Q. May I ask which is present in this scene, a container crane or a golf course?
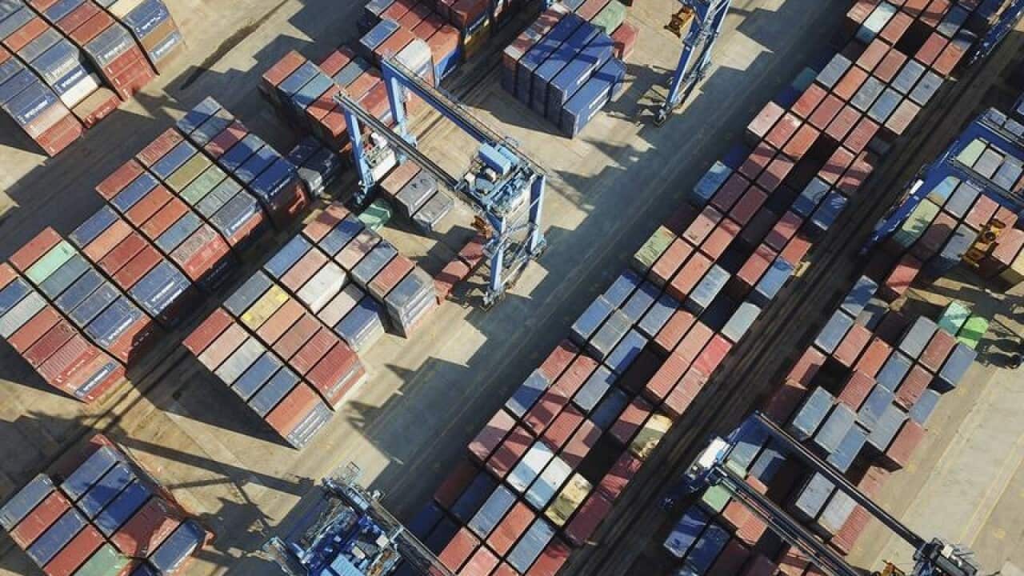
container crane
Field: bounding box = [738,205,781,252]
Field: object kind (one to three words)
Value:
shipping container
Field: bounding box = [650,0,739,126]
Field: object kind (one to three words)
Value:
container crane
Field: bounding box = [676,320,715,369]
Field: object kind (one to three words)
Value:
shipping container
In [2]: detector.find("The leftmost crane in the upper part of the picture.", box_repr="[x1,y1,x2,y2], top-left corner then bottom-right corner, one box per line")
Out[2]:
[333,47,562,310]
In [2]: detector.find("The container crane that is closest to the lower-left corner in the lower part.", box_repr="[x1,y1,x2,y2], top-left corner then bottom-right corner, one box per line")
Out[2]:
[251,465,449,576]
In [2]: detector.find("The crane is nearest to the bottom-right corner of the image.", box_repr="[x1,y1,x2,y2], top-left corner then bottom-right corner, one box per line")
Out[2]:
[655,404,997,576]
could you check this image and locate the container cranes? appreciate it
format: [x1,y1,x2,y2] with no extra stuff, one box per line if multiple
[251,465,449,576]
[650,0,739,126]
[333,47,562,310]
[655,404,997,576]
[860,113,1024,263]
